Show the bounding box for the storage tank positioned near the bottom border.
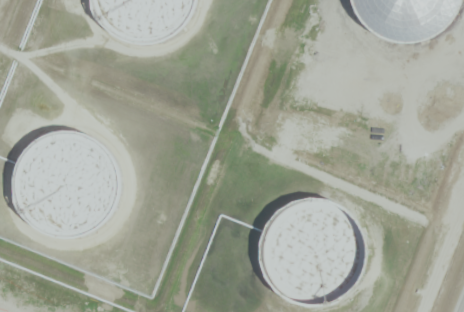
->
[258,198,367,306]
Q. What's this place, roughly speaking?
industrial area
